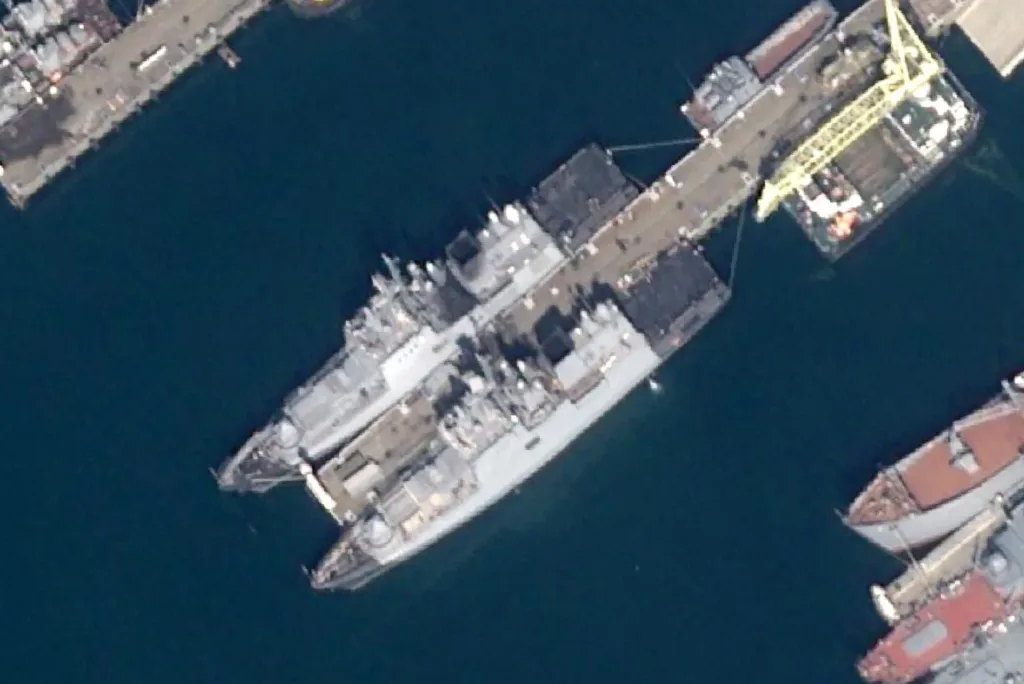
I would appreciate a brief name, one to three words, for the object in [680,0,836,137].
ship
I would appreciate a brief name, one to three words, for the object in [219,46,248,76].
pier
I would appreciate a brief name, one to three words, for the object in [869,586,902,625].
boat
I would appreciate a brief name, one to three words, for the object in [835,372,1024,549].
ship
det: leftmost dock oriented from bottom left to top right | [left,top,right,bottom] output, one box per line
[0,0,283,216]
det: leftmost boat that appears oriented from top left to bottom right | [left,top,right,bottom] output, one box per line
[302,470,348,523]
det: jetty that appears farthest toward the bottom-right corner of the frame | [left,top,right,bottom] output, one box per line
[885,480,1024,612]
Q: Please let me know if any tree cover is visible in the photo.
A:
No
